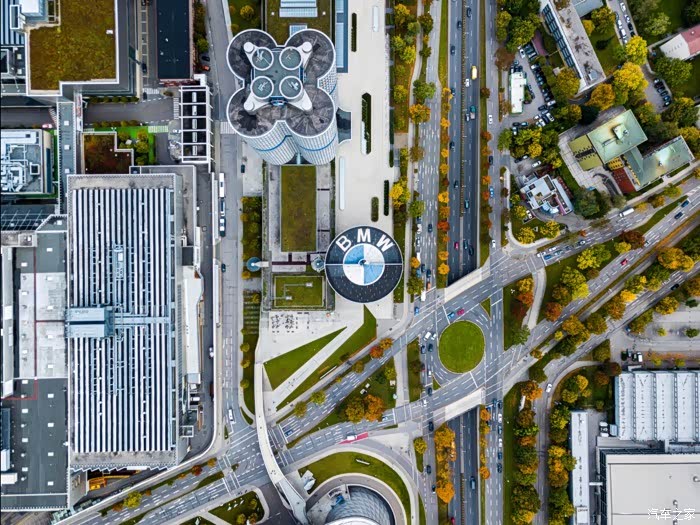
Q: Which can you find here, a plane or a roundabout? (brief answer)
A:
roundabout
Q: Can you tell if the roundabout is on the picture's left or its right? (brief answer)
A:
right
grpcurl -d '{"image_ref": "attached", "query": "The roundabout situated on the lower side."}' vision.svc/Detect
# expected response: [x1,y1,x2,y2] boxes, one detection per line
[435,313,489,379]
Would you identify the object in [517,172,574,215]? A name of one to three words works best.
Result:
house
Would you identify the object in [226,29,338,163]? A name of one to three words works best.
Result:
building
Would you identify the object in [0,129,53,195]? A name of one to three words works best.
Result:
building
